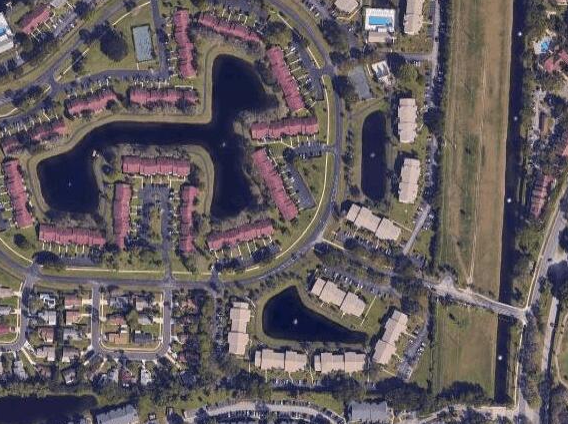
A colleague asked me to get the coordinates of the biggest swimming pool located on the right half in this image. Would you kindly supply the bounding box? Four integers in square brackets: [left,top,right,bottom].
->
[365,10,394,32]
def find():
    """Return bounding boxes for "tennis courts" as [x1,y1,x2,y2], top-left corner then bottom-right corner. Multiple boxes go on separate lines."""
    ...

[133,25,150,64]
[345,65,374,102]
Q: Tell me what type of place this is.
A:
residential area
